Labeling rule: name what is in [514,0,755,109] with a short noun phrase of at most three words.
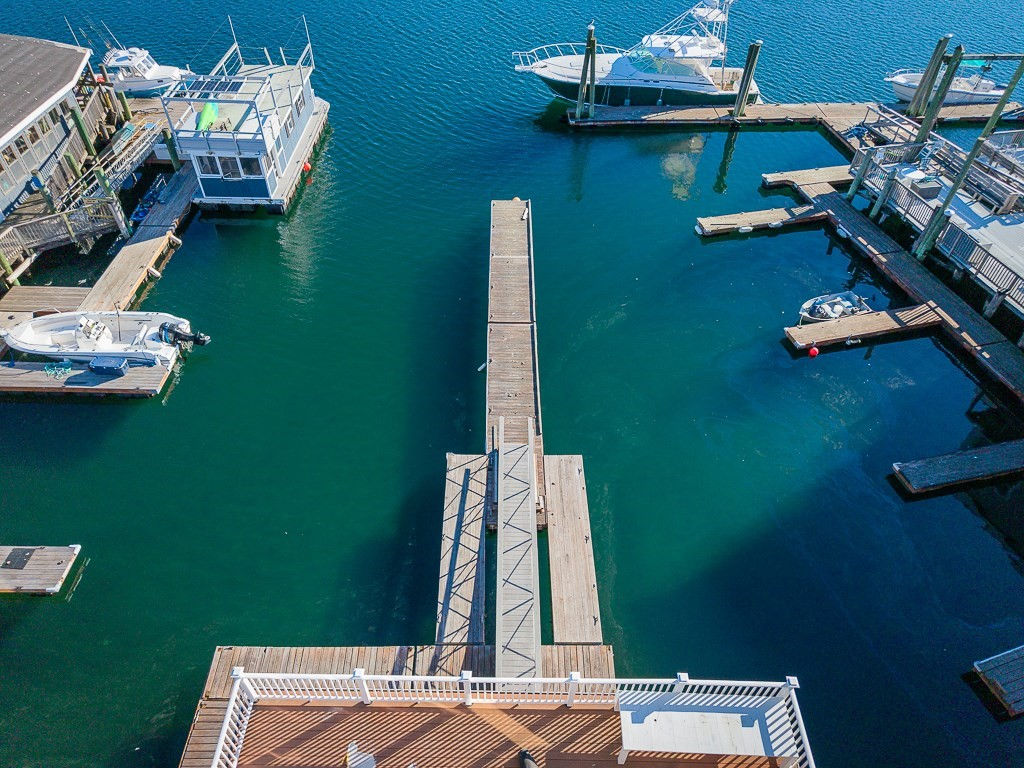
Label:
boat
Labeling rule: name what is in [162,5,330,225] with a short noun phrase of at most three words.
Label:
boat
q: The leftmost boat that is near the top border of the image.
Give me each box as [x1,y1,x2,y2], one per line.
[65,20,199,111]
